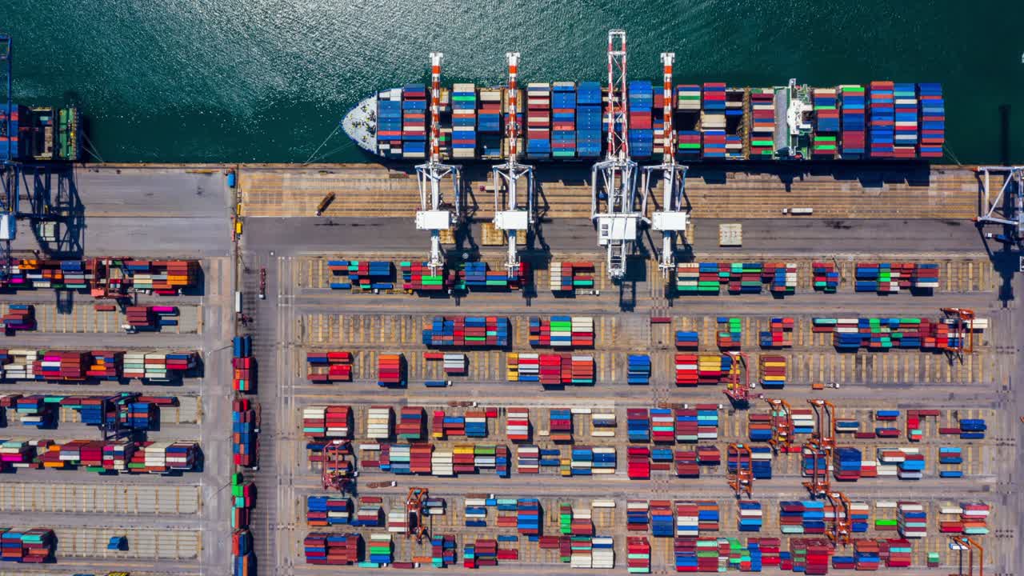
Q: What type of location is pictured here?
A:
port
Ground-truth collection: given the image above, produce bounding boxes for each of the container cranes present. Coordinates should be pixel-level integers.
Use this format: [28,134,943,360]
[761,398,791,445]
[823,484,850,541]
[104,388,144,439]
[724,438,753,490]
[968,163,1024,219]
[804,397,836,448]
[797,438,829,492]
[935,310,974,350]
[576,30,642,282]
[86,258,134,298]
[415,52,467,279]
[323,436,349,486]
[945,529,984,576]
[488,52,537,279]
[721,351,748,395]
[406,479,428,534]
[628,52,689,279]
[0,34,77,275]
